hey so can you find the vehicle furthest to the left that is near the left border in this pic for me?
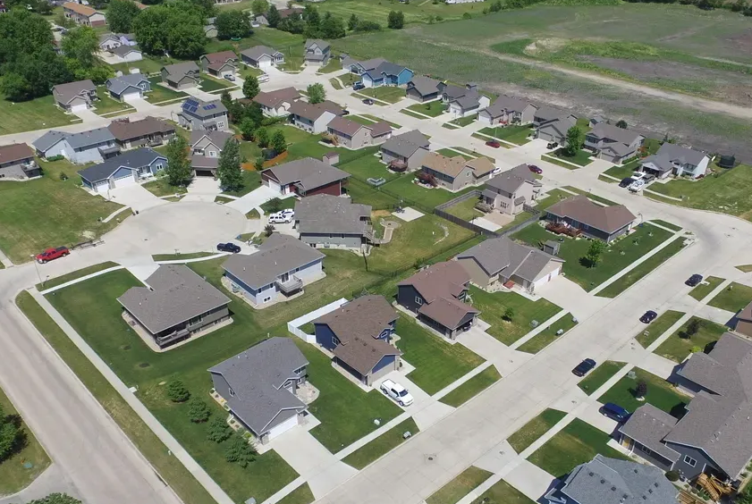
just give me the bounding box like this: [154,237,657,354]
[36,248,72,265]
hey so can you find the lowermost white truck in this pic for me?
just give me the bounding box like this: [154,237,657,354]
[379,376,416,407]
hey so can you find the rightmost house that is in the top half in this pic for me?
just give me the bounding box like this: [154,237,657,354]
[638,143,709,182]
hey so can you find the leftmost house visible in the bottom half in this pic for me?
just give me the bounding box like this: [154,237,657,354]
[116,265,231,359]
